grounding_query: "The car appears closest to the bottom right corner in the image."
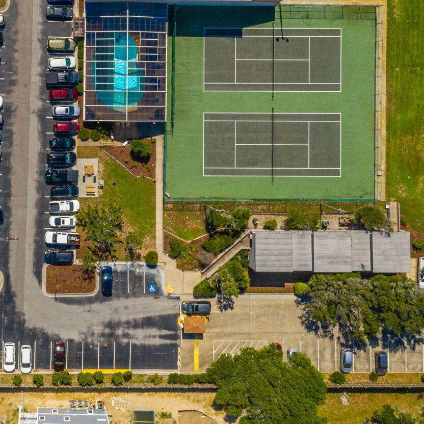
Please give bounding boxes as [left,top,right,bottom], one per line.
[374,350,388,374]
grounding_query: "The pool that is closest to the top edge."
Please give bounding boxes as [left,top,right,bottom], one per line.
[94,29,146,110]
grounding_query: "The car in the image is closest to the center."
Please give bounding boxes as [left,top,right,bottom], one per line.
[180,301,212,316]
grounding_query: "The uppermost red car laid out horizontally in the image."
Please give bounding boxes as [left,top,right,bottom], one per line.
[50,88,77,101]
